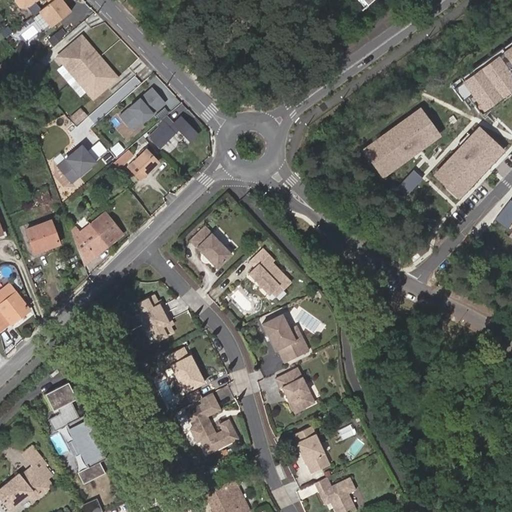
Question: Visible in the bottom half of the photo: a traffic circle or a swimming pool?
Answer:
swimming pool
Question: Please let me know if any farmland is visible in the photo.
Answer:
No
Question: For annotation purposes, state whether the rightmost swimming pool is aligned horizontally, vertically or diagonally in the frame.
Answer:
diagonally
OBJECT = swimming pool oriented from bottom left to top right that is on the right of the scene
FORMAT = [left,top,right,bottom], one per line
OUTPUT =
[345,438,364,461]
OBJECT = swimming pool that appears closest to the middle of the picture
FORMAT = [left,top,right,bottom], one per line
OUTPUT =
[231,290,253,312]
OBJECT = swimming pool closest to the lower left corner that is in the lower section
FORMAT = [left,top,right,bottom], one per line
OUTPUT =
[50,432,69,455]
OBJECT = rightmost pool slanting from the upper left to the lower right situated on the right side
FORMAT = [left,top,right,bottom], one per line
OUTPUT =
[296,310,322,332]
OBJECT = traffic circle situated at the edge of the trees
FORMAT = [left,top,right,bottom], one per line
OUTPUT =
[213,112,286,184]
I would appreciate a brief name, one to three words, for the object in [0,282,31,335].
house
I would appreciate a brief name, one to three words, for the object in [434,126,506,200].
building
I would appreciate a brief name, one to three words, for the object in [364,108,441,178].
building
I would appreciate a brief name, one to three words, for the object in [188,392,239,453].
house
